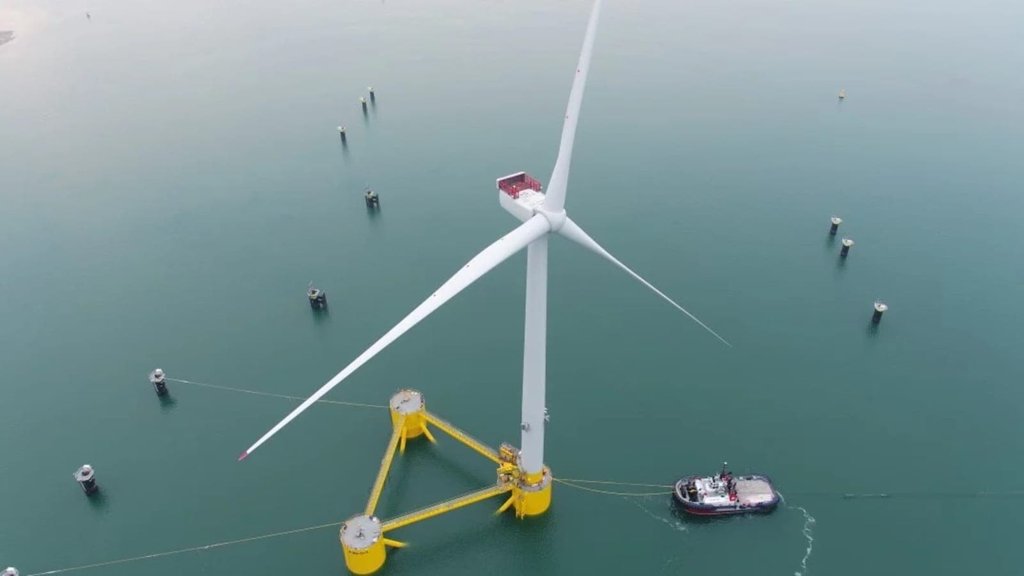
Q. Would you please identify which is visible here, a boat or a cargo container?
boat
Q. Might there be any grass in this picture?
No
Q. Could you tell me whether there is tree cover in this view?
No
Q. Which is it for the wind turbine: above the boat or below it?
above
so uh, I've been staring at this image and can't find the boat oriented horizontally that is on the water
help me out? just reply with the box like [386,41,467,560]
[670,464,782,515]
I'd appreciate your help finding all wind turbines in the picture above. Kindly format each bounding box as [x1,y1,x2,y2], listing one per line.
[241,0,731,485]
